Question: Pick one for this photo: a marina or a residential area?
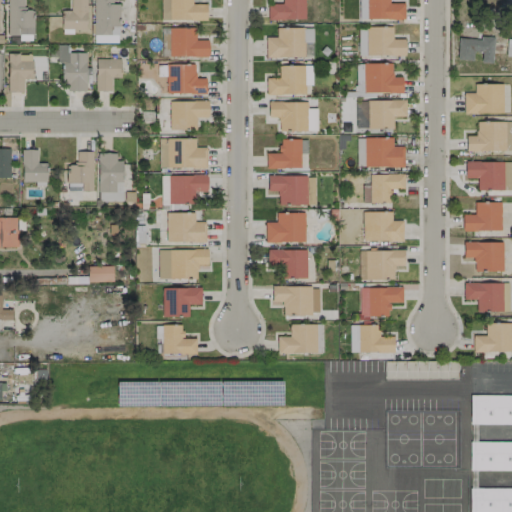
residential area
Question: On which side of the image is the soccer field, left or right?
left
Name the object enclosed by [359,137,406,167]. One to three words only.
house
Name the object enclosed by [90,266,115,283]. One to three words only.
barn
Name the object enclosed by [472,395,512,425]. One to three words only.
building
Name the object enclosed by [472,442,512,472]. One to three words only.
building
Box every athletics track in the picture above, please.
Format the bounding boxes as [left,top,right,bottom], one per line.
[0,407,306,512]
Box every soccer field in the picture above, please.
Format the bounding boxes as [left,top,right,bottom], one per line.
[0,418,296,512]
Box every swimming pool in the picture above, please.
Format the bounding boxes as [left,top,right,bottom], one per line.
[28,189,43,198]
[150,38,163,53]
[316,222,332,242]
